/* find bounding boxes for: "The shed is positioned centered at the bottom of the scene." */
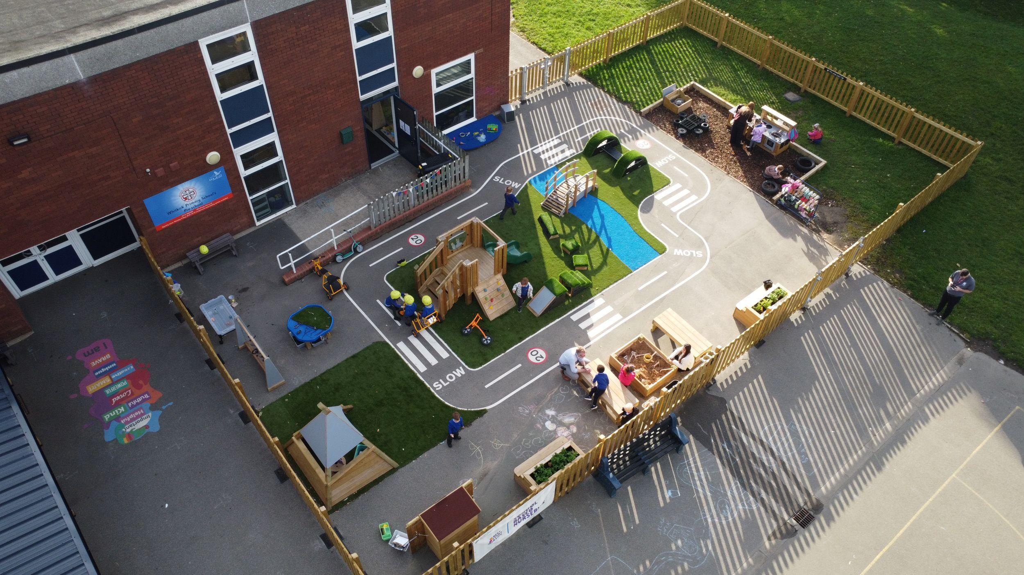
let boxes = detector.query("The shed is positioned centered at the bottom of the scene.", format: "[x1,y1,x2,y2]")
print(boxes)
[397,477,480,560]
